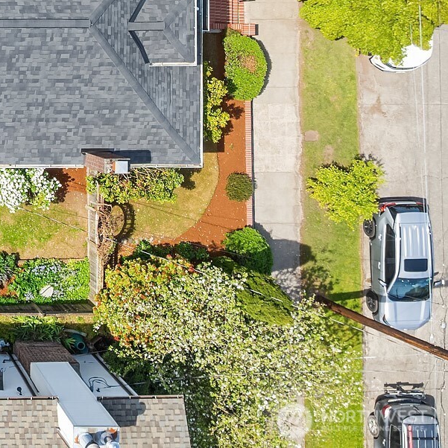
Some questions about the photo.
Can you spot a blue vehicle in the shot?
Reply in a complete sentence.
No, the frame has no blue vehicle in it.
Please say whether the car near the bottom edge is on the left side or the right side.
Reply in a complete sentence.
You can find the car near the bottom edge on the right side of the picture.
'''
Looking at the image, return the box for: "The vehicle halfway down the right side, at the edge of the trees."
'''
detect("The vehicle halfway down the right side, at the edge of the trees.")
[363,198,436,326]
